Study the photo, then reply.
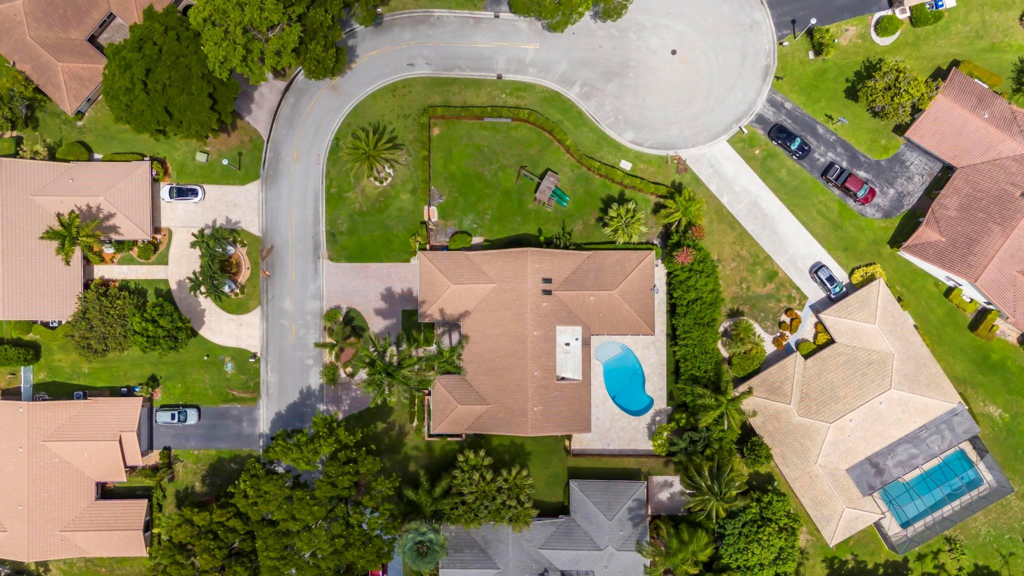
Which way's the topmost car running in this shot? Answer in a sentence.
The topmost car runs diagonally in the image.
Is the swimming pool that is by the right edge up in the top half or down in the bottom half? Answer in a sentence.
You can find the swimming pool that is by the right edge in the bottom half.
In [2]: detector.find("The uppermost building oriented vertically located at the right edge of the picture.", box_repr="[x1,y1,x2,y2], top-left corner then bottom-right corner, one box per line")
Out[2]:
[896,66,1024,336]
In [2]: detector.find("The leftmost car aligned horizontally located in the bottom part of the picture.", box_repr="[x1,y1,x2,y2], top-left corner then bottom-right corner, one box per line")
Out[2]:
[153,405,200,427]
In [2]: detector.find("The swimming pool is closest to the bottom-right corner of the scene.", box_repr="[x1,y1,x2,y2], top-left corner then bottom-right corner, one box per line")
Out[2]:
[879,447,986,530]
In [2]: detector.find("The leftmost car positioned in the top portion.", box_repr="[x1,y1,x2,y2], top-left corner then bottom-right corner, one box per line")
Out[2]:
[162,182,203,204]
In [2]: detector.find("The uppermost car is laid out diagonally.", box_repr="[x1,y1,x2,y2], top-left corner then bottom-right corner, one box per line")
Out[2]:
[767,123,809,159]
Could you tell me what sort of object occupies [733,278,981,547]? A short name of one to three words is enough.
house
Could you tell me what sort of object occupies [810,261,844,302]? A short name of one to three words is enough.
car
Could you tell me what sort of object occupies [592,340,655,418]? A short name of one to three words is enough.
swimming pool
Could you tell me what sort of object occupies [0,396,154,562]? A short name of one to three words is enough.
house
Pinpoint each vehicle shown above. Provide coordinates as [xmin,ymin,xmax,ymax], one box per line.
[822,163,873,203]
[153,405,200,427]
[767,123,809,159]
[810,261,844,302]
[162,182,203,204]
[370,563,389,576]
